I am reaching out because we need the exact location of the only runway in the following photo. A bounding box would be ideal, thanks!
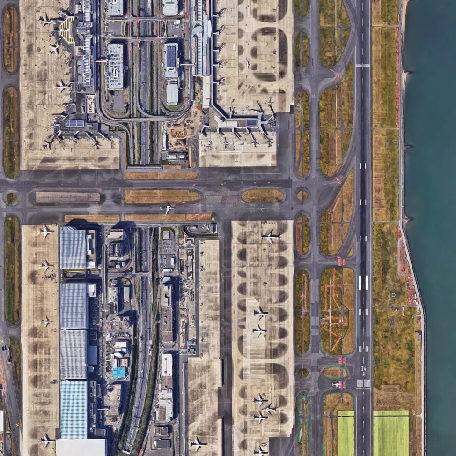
[356,0,372,456]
